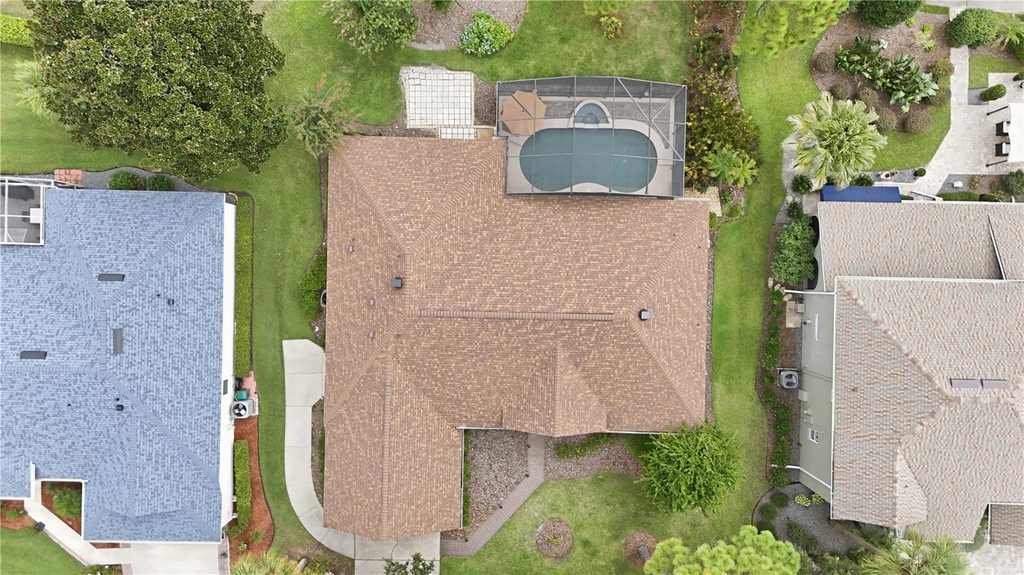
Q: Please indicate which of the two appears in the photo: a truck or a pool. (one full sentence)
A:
The one in the frame is a pool.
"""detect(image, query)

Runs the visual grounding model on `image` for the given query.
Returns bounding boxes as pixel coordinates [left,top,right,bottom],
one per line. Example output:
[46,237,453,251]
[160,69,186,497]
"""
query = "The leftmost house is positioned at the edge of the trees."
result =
[0,186,238,545]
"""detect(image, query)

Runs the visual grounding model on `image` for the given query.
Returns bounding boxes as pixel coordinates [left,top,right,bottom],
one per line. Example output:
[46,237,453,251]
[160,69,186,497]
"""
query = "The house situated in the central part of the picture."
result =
[322,135,712,543]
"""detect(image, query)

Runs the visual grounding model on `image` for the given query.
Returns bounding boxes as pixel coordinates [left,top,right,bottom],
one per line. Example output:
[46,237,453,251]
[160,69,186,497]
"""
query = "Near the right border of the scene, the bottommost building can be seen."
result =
[772,201,1024,546]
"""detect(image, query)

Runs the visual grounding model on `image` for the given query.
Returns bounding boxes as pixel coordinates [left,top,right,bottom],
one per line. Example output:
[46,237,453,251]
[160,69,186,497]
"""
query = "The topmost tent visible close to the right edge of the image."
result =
[973,102,1024,169]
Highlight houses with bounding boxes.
[772,201,1024,546]
[0,186,238,545]
[322,135,712,543]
